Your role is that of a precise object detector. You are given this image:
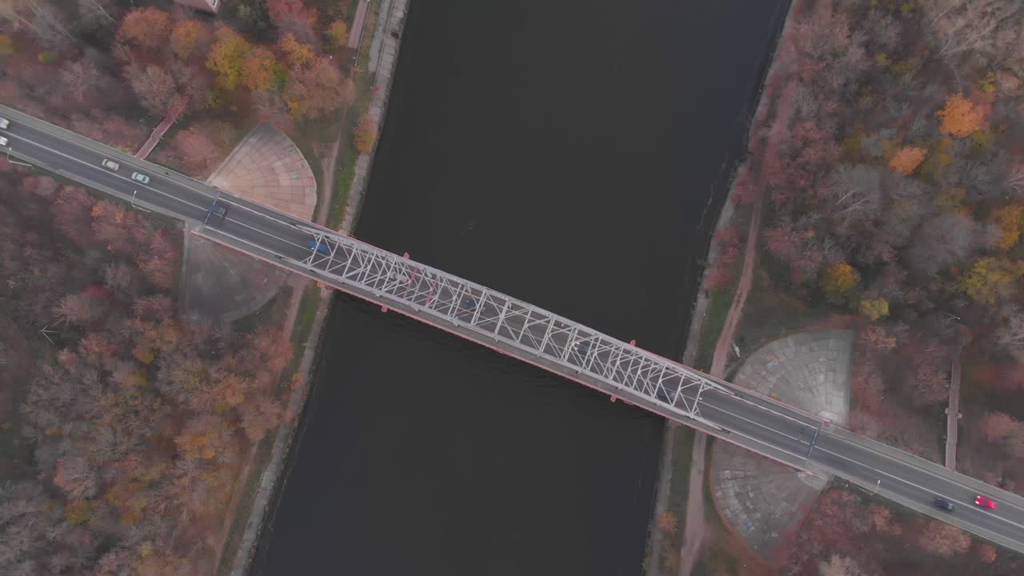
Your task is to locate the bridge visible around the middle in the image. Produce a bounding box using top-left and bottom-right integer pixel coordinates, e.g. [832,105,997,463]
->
[184,179,847,481]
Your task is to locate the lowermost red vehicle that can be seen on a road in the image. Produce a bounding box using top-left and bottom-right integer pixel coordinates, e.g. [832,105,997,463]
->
[974,496,996,510]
